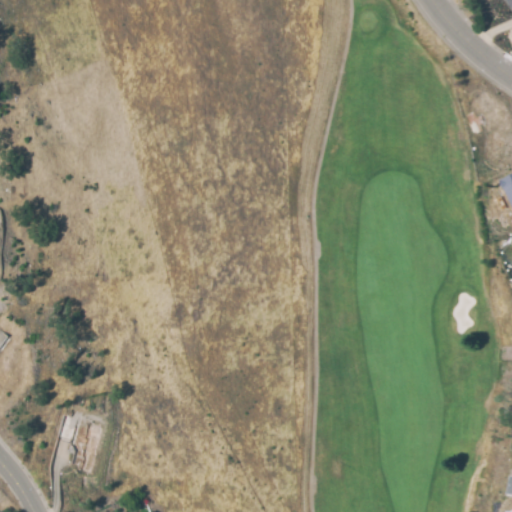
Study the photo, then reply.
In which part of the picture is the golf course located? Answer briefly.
right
